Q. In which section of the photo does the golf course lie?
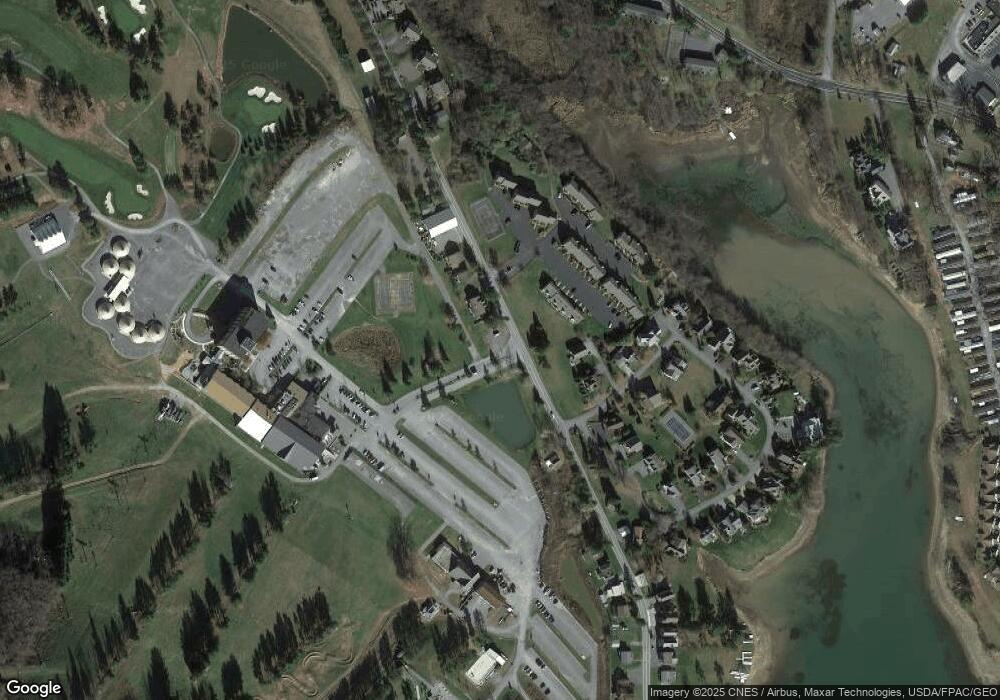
top left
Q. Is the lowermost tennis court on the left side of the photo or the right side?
right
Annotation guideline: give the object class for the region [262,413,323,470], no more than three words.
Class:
building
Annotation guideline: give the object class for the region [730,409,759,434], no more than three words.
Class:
house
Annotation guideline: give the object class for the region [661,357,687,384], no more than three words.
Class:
house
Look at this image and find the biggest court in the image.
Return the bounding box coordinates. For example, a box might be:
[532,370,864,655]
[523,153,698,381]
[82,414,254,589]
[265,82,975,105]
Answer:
[375,273,413,314]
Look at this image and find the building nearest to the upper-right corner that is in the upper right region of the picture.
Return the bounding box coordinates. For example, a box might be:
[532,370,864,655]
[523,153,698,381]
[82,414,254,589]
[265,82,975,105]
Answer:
[969,16,1000,48]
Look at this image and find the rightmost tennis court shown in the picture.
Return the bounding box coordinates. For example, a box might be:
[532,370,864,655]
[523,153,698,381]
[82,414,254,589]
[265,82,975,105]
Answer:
[660,413,696,449]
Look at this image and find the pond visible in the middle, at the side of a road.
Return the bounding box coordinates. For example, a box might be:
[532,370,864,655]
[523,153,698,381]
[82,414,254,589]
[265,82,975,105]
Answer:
[458,380,537,450]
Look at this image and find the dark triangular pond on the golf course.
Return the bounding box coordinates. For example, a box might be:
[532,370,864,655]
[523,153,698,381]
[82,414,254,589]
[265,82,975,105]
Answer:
[222,5,328,105]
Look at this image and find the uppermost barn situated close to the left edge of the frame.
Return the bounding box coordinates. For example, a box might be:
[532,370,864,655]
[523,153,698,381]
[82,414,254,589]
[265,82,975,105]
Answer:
[32,220,66,253]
